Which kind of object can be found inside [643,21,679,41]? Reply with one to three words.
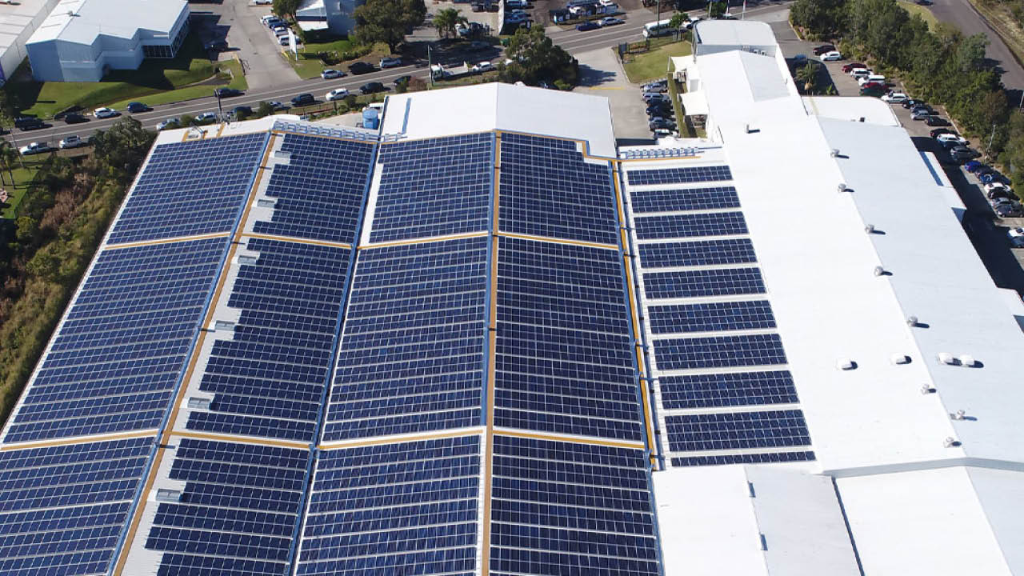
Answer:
bus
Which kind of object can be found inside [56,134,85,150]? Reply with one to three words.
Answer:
car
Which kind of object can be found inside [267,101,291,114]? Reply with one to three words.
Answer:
vehicle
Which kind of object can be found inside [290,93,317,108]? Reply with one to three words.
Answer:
car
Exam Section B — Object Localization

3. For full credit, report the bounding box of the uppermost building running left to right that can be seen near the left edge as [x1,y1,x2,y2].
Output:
[23,0,210,77]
